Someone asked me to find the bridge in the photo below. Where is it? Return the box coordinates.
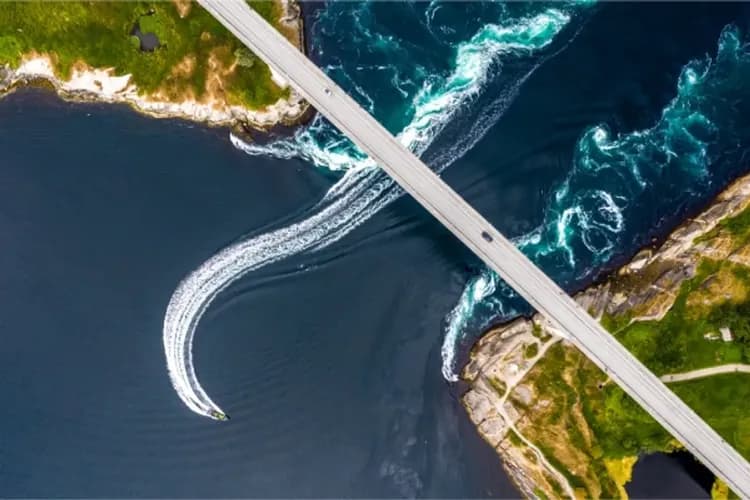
[196,0,750,500]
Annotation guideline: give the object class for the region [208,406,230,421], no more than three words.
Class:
boat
